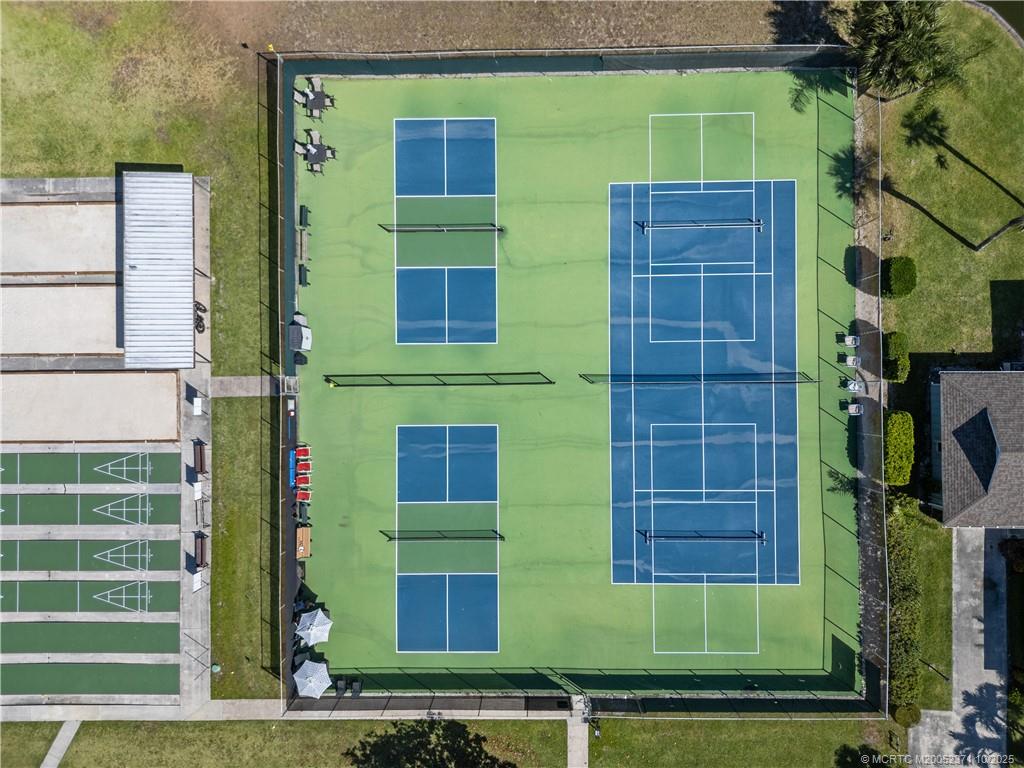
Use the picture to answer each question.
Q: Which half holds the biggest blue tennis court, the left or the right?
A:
right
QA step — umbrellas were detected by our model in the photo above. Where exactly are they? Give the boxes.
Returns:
[295,605,336,646]
[293,656,334,697]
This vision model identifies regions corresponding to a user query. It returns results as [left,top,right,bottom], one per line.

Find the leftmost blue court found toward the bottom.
[396,424,499,654]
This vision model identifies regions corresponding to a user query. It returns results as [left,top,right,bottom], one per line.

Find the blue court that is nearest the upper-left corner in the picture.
[394,117,498,345]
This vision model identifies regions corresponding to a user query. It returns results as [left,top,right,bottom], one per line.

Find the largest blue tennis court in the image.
[610,179,801,585]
